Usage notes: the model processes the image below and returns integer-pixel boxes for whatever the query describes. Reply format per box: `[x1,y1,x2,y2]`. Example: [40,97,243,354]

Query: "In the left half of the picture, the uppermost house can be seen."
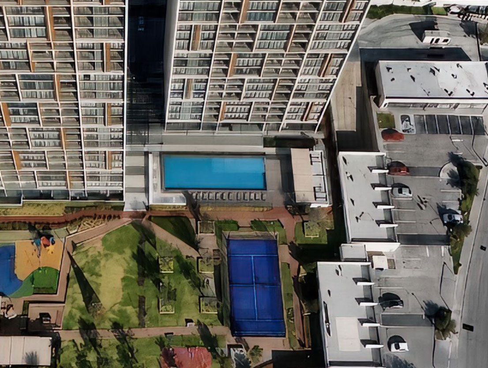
[134,0,166,52]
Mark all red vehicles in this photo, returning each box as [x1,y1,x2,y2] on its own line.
[388,165,409,175]
[384,131,405,142]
